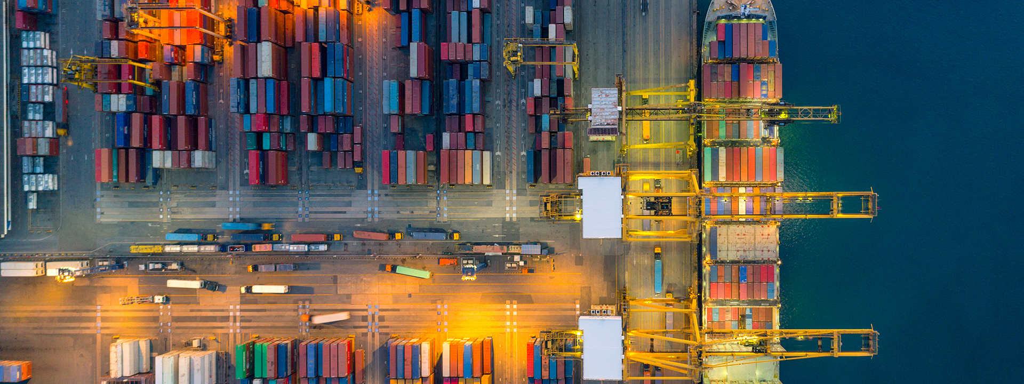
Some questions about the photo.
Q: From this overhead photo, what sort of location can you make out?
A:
port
